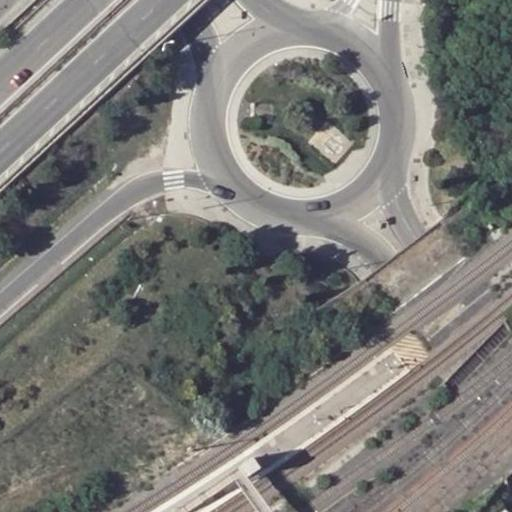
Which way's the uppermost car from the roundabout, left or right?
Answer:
to its left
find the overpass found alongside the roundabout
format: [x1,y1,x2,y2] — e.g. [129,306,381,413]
[100,0,208,54]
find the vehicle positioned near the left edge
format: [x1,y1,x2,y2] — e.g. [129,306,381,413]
[11,66,32,86]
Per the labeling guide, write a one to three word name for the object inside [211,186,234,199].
vehicle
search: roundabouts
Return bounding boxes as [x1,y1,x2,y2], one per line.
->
[190,4,415,240]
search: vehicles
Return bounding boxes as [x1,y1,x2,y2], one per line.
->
[11,66,32,86]
[211,186,234,199]
[306,200,328,211]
